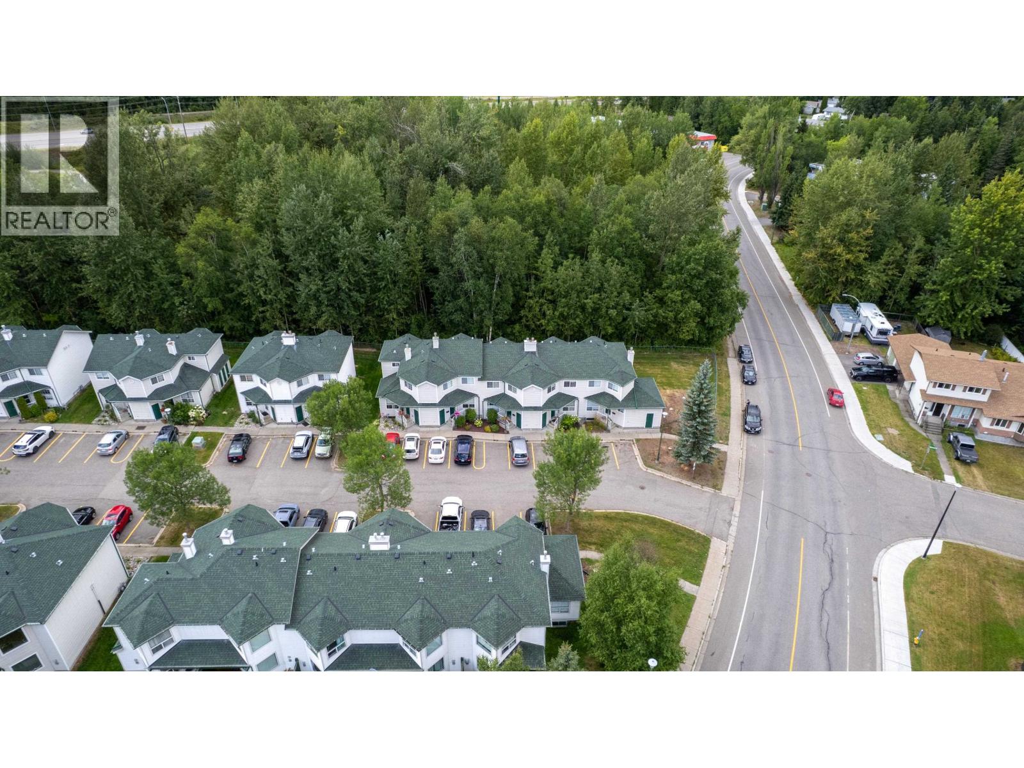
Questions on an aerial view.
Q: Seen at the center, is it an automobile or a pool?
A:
automobile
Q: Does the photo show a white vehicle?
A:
Yes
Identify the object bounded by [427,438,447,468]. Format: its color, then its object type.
white car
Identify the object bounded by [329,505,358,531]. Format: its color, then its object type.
white car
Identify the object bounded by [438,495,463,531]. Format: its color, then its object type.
white truck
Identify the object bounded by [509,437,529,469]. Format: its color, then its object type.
gray vehicle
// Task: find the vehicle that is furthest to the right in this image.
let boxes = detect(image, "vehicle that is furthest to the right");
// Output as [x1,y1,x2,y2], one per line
[938,432,989,468]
